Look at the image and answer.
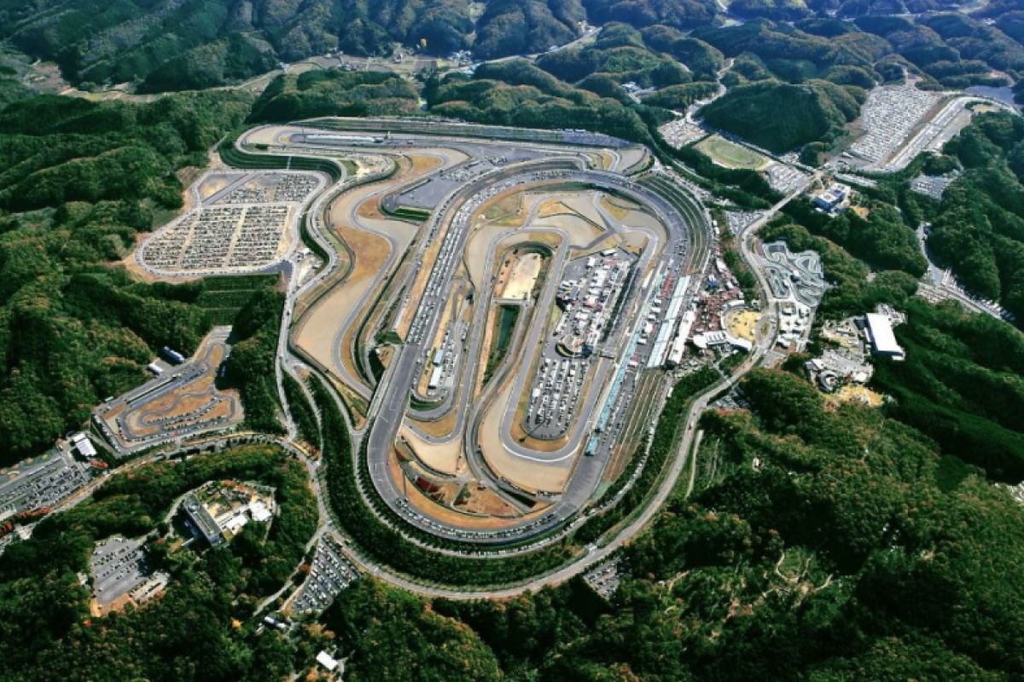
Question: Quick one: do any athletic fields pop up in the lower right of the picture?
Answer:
No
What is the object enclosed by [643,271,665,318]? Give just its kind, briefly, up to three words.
building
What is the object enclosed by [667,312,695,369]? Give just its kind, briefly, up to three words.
building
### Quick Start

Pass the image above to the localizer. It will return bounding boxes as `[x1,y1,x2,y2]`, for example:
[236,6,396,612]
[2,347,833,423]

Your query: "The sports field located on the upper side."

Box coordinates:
[693,133,775,170]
